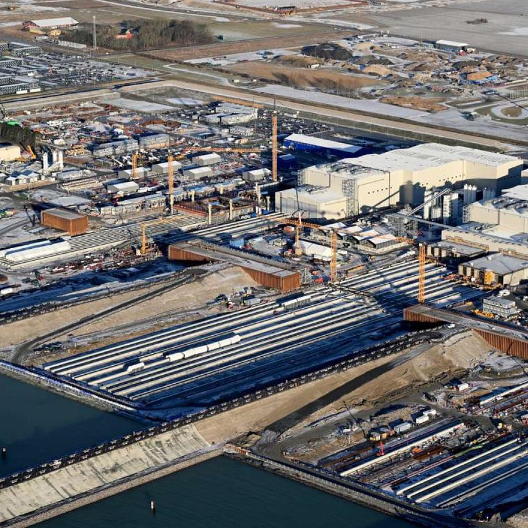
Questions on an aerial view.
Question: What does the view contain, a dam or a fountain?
dam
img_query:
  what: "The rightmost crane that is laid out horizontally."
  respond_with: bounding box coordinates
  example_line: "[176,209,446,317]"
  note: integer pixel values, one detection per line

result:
[295,222,416,279]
